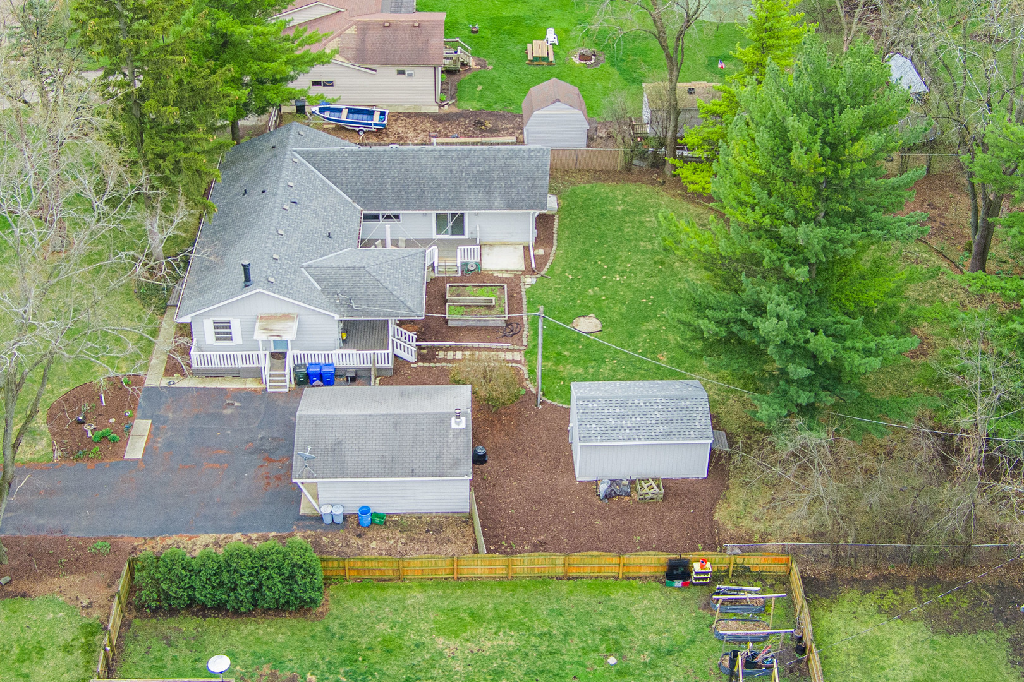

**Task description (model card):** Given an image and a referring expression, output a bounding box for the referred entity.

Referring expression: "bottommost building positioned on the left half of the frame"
[292,384,473,515]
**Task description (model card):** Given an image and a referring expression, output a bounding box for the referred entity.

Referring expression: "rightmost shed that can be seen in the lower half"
[570,380,715,481]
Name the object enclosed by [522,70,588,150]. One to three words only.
shed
